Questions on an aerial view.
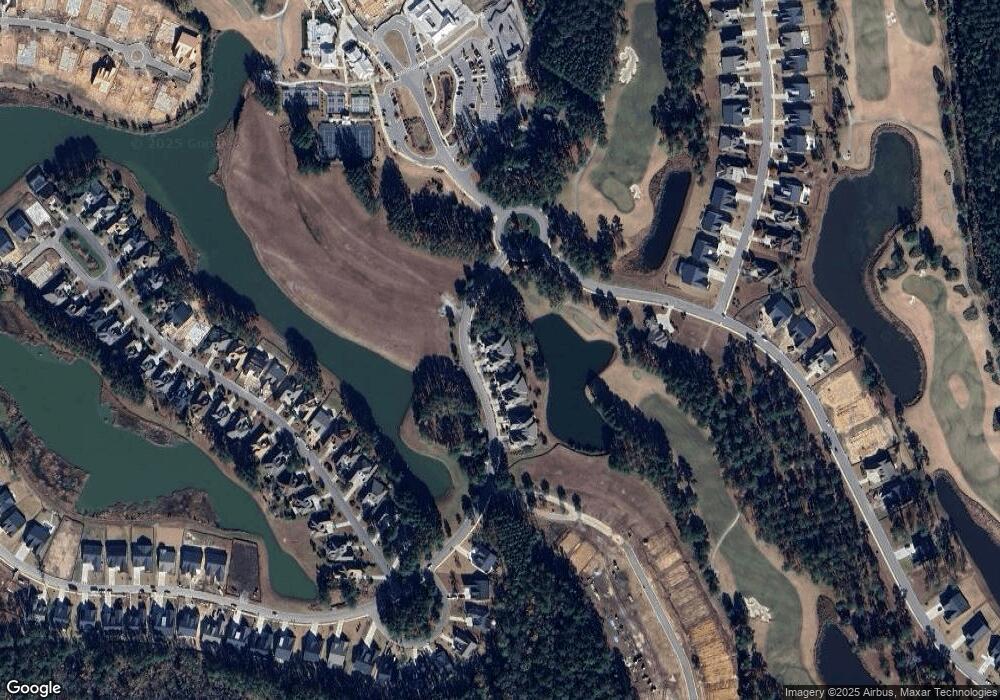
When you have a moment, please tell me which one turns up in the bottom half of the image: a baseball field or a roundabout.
roundabout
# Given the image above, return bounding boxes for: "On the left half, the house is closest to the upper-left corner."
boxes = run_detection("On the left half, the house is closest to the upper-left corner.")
[89,62,118,89]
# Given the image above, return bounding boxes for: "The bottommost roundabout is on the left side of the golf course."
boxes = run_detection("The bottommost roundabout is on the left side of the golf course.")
[369,560,450,647]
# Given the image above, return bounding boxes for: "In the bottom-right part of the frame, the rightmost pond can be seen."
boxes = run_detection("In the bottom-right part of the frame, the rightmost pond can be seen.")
[934,471,1000,609]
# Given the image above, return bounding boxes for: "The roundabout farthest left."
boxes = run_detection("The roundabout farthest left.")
[53,218,116,289]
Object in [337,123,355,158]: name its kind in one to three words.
tennis court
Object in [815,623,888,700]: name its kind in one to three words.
pond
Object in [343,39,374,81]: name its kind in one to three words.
building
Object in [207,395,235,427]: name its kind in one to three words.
house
